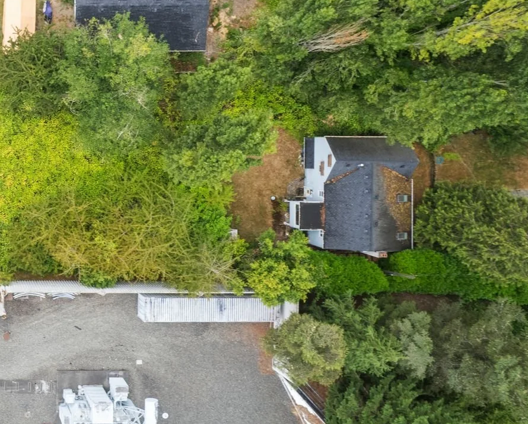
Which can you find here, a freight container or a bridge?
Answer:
freight container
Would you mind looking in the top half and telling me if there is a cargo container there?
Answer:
No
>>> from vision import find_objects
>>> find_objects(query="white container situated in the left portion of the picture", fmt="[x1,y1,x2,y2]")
[139,295,274,322]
